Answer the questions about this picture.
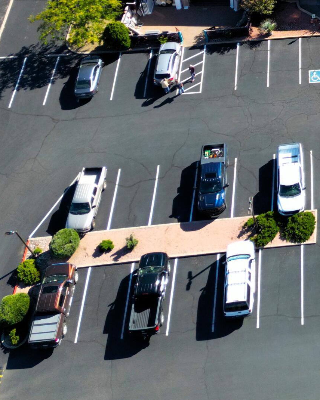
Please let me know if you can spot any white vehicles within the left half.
Yes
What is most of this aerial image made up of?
paved ground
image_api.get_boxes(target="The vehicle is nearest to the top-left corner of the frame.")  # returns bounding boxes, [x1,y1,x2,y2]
[72,54,104,99]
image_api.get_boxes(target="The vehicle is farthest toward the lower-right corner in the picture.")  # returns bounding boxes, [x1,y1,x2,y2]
[221,242,255,317]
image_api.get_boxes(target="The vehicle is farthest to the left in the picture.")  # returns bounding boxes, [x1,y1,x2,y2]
[23,262,73,351]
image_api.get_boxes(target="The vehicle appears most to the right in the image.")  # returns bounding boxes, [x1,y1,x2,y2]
[273,139,306,214]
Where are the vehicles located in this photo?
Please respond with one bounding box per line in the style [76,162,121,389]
[65,161,108,233]
[151,41,182,84]
[72,54,104,99]
[129,249,170,338]
[221,242,255,317]
[273,139,306,214]
[23,262,73,351]
[195,141,227,213]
